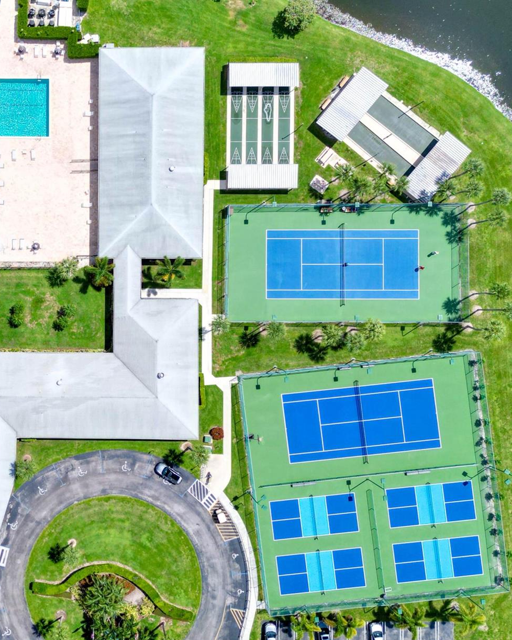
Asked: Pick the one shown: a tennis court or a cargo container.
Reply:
tennis court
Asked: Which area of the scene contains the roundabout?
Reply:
bottom left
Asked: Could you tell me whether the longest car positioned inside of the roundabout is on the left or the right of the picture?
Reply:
left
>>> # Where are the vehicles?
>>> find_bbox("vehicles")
[263,621,277,640]
[317,620,330,640]
[215,508,227,526]
[369,621,384,640]
[153,463,184,485]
